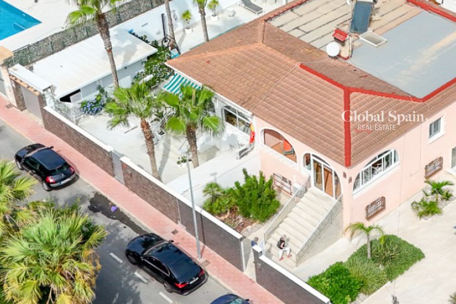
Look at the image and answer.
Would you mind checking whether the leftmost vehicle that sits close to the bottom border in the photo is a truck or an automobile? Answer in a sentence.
Looking closely, the leftmost vehicle that sits close to the bottom border is an automobile.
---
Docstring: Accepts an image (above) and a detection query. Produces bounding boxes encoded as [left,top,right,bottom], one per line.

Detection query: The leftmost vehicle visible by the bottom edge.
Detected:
[123,232,206,293]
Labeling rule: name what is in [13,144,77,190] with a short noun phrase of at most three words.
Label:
car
